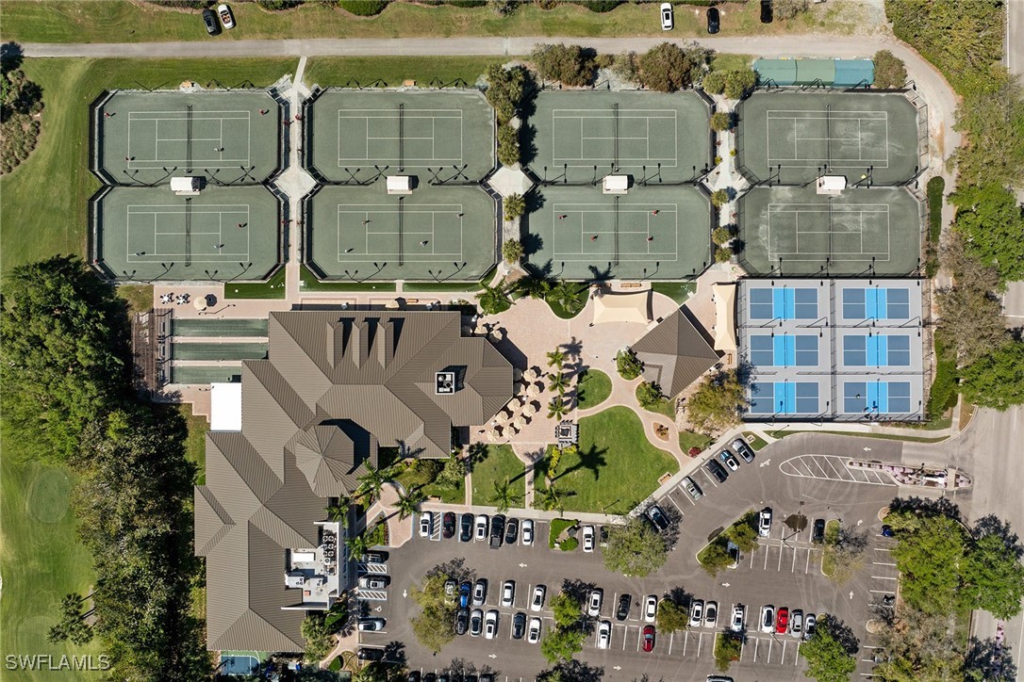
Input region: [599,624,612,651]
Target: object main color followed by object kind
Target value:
white vehicle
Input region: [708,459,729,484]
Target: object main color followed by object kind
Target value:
black car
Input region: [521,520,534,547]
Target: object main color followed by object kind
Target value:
white vehicle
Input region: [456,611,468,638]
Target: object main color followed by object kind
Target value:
gray vehicle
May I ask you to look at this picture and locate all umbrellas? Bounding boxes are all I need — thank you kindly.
[524,367,538,381]
[513,382,526,396]
[387,298,400,311]
[193,296,207,310]
[474,324,487,336]
[527,384,539,397]
[522,403,536,416]
[513,368,524,382]
[487,429,500,442]
[513,416,527,430]
[507,398,521,412]
[489,329,502,342]
[494,410,509,425]
[502,424,516,438]
[462,324,474,336]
